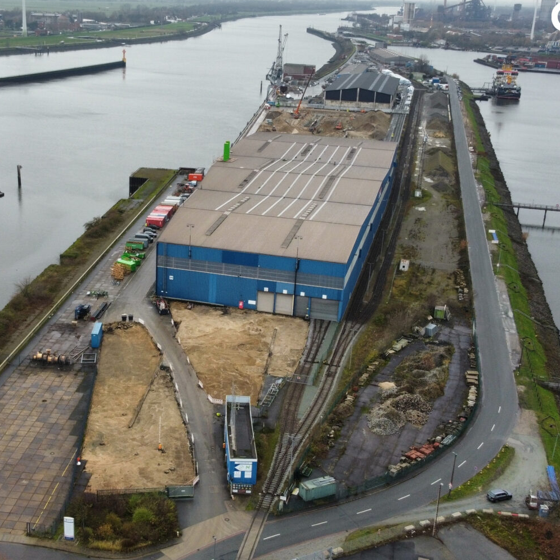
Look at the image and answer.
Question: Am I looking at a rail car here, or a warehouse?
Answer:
warehouse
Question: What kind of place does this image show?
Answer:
port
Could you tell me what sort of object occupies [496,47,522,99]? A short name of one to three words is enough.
ship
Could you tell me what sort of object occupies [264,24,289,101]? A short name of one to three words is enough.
crane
